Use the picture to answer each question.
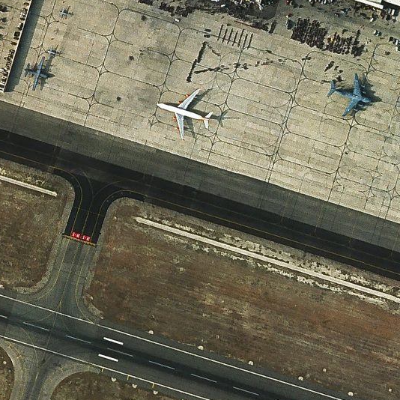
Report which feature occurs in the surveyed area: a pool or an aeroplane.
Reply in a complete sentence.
Of the two, only an aeroplane appears.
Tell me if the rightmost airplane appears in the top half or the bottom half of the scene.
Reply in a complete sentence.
The rightmost airplane is in the top half of the image.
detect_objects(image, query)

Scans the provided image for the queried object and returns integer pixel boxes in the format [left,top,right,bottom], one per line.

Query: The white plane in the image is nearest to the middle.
[157,89,211,138]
